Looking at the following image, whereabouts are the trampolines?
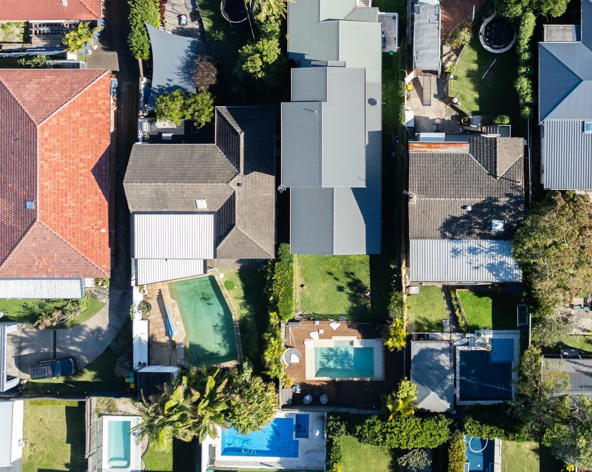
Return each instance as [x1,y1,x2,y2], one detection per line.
[479,17,516,54]
[216,0,256,26]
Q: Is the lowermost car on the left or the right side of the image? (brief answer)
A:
left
